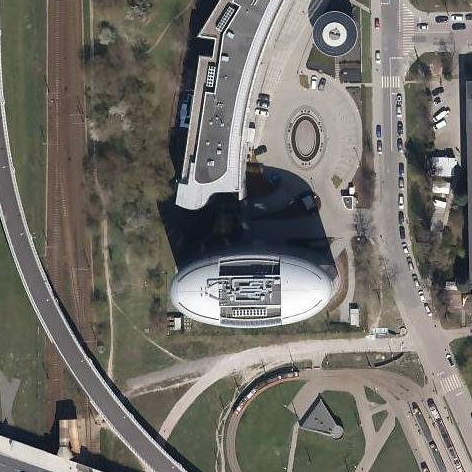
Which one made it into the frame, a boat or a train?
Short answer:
train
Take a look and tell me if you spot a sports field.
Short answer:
No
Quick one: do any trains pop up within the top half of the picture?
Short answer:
No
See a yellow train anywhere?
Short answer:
No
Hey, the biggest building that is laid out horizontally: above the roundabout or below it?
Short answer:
below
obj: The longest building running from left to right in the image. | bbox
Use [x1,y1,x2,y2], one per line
[173,252,336,327]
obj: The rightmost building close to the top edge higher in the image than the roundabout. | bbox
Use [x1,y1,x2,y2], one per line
[313,11,358,56]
